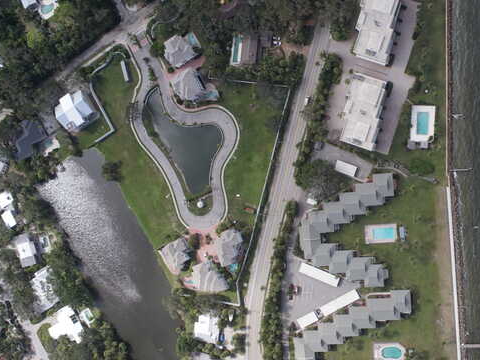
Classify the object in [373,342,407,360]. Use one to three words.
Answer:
swimming pool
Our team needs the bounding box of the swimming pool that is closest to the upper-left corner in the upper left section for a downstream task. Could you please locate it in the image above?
[38,0,58,18]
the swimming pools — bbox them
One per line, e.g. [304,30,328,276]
[182,276,195,289]
[227,264,240,272]
[80,309,95,324]
[40,235,52,253]
[411,105,436,143]
[204,82,219,100]
[373,342,407,360]
[42,139,59,151]
[231,36,241,64]
[366,223,397,244]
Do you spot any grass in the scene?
Yes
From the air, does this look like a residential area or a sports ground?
residential area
